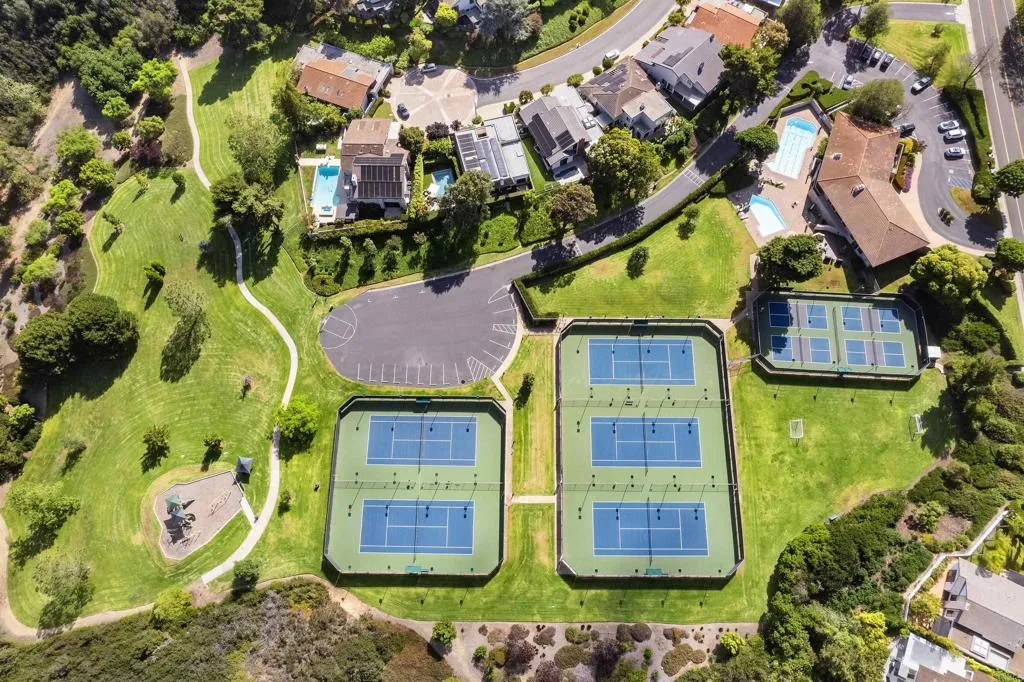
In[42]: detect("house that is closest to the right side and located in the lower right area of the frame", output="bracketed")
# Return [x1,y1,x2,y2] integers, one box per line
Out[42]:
[934,558,1024,669]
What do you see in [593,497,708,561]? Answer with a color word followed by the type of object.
blue tennis court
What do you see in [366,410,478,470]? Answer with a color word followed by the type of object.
blue tennis court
